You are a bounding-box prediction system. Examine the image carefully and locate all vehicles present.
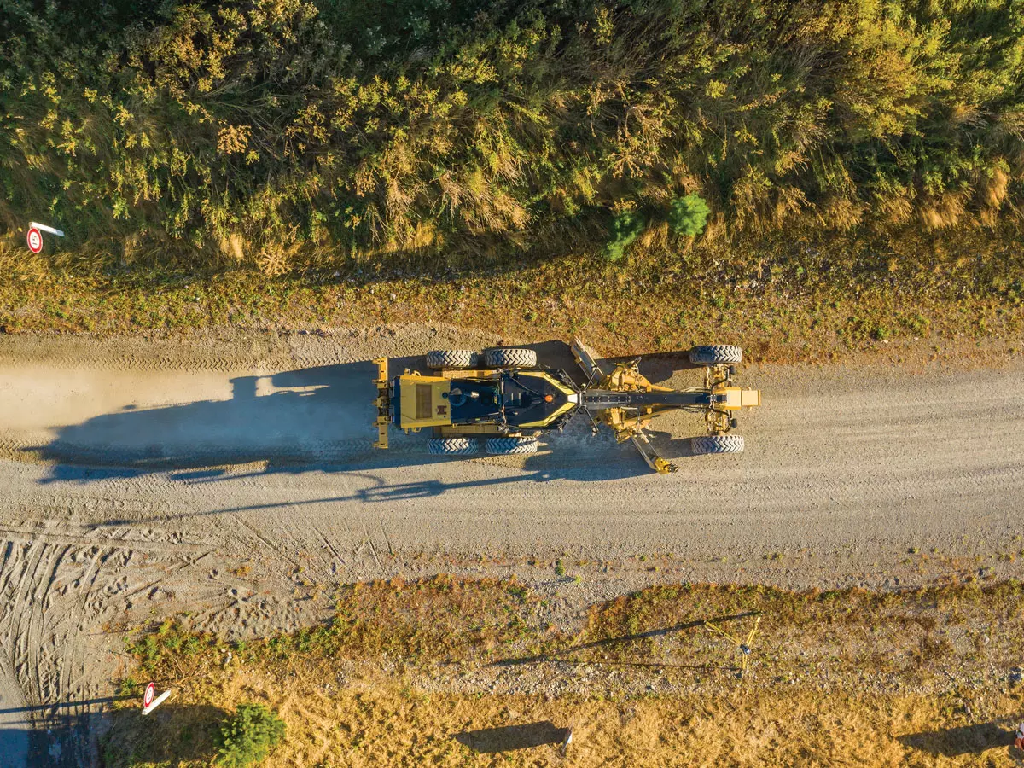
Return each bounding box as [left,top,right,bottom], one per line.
[372,335,760,482]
